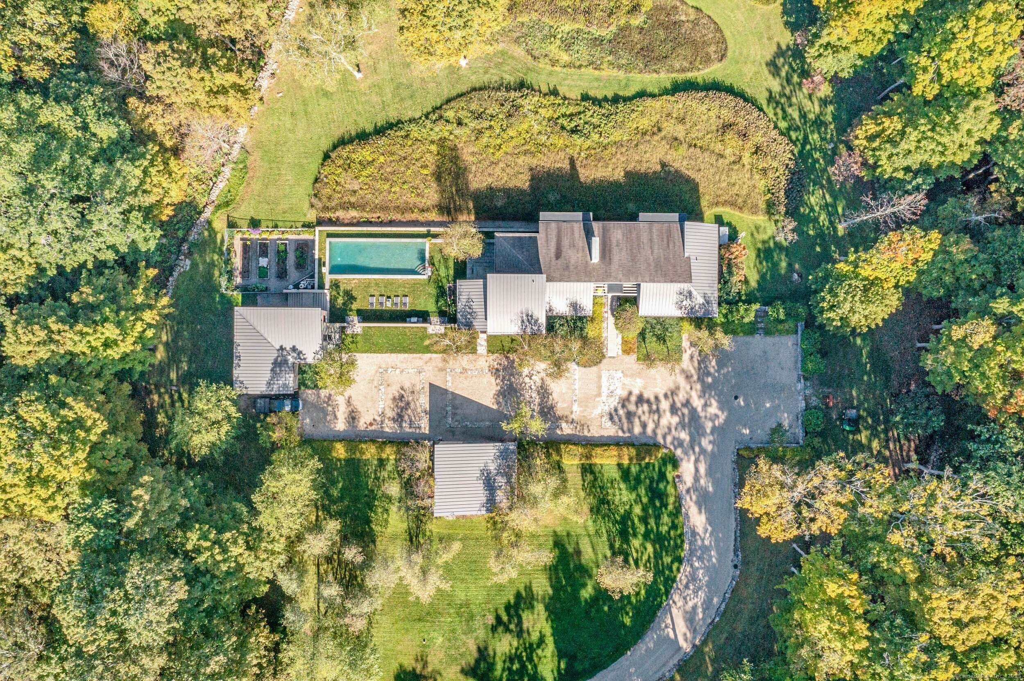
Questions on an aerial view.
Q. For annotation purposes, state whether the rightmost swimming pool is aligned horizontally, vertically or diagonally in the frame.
horizontally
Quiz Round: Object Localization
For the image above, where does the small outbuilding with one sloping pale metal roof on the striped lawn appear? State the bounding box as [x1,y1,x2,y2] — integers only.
[434,436,517,518]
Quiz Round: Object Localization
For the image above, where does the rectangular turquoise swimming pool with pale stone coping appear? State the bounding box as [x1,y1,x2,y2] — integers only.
[326,238,429,278]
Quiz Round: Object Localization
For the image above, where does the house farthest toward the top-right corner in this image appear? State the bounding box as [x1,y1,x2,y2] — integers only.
[456,212,718,336]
